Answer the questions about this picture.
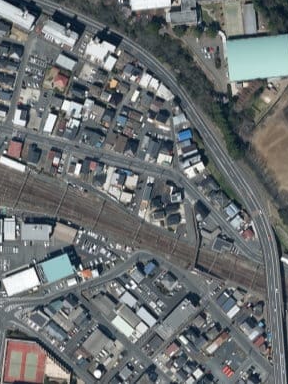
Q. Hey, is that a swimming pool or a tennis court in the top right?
tennis court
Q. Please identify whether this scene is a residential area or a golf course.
residential area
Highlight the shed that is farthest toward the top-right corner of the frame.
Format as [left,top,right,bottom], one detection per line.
[242,3,256,31]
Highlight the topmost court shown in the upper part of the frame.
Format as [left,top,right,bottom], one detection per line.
[222,2,243,32]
